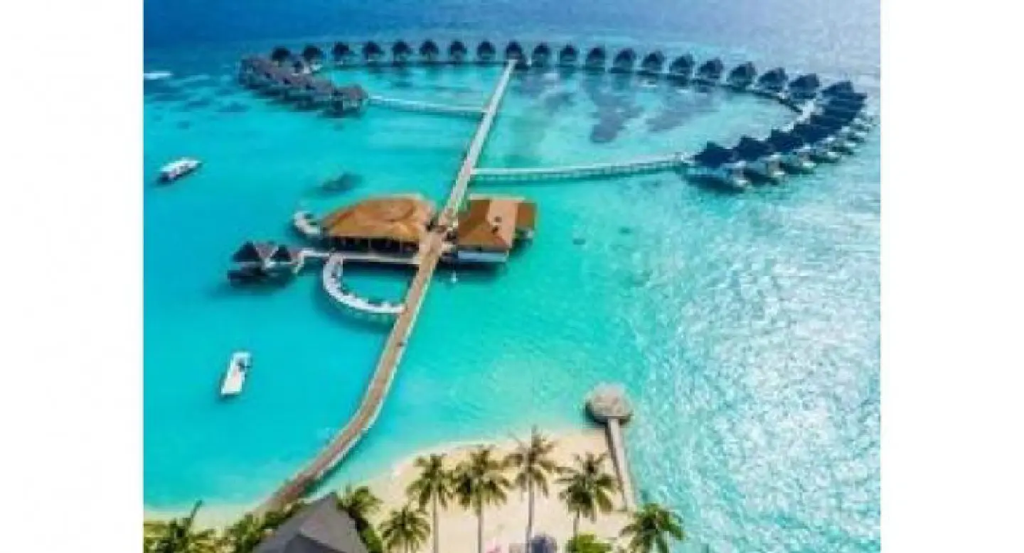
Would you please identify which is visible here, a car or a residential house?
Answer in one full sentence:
Visible in the photo is a residential house.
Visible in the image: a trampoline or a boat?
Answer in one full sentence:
Of the two, only a boat appears.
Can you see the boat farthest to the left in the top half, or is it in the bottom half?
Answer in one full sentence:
The boat farthest to the left is in the top half of the image.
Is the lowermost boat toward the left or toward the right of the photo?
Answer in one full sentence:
The lowermost boat appears in the left half of the scene.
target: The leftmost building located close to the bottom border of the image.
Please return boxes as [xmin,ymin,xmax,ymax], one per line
[258,490,371,553]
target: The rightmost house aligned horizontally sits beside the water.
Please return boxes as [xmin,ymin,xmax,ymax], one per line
[810,84,879,122]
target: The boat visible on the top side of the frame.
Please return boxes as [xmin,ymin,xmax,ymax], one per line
[159,158,202,181]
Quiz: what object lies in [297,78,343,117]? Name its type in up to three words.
house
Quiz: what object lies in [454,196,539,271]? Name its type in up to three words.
building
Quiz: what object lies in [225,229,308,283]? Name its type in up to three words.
shed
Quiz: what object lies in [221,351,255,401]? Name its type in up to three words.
boat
